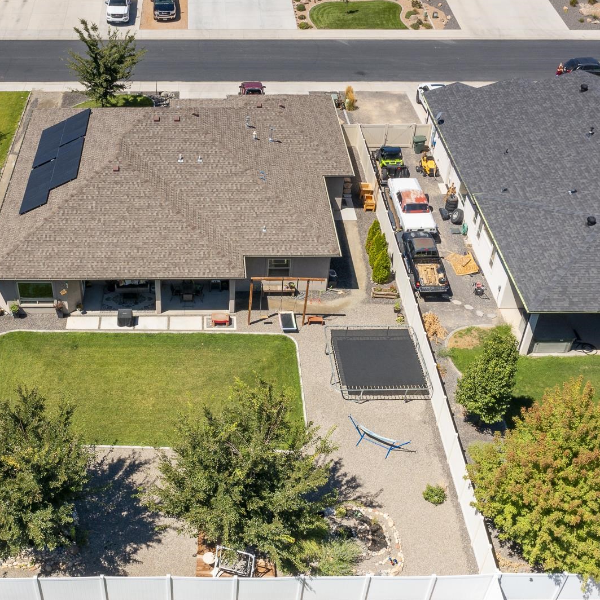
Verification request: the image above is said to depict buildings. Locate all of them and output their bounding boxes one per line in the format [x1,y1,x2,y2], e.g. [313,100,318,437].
[428,65,600,353]
[0,91,357,314]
